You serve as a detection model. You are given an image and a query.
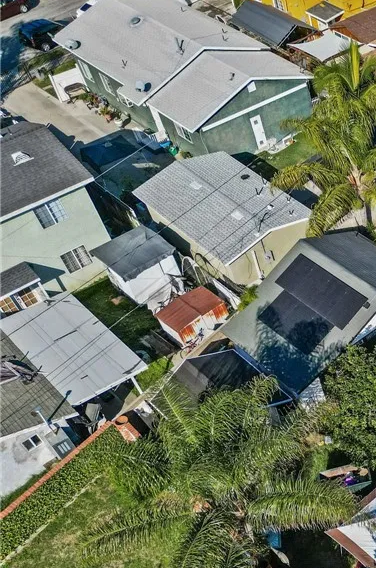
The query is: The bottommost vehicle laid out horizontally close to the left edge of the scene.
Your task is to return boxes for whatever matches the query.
[0,14,69,51]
